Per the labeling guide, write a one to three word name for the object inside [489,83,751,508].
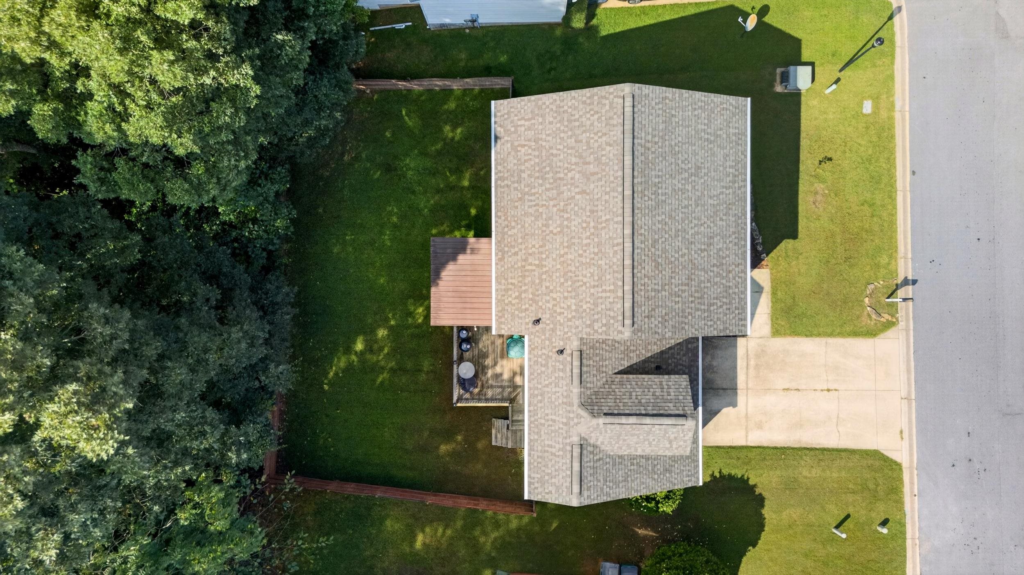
house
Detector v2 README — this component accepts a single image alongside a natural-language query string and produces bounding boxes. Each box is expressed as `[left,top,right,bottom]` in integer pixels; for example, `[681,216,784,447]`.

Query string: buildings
[489,83,751,508]
[325,0,567,30]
